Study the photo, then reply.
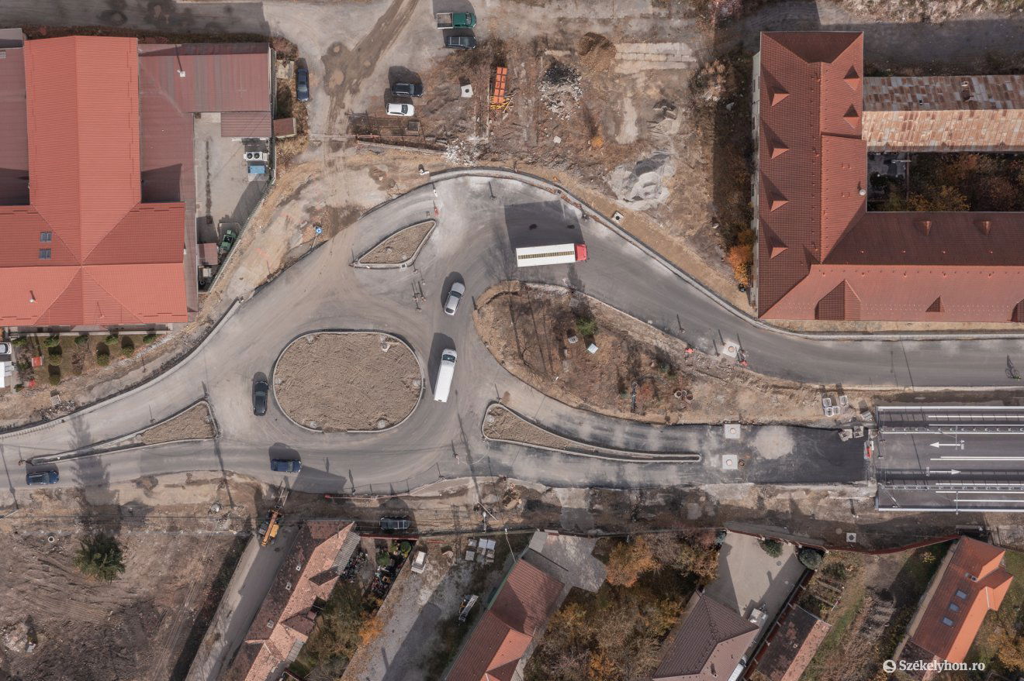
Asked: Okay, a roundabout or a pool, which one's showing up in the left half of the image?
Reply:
roundabout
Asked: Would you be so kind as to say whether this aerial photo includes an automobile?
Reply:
Yes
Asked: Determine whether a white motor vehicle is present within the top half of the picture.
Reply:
Yes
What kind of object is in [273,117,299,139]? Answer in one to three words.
shed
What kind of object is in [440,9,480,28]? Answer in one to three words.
vehicle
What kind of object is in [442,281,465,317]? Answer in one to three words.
car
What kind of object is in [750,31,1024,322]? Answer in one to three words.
building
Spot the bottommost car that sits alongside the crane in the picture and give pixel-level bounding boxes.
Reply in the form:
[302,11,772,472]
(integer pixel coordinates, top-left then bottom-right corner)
[269,459,301,475]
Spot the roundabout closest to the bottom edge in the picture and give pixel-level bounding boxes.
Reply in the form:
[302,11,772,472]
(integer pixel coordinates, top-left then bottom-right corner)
[242,299,452,464]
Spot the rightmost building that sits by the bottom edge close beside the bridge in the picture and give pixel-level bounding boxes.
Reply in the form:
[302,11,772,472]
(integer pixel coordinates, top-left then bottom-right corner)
[910,537,1013,663]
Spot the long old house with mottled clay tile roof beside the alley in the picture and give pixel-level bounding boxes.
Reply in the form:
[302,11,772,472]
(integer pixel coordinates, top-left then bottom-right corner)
[225,521,360,681]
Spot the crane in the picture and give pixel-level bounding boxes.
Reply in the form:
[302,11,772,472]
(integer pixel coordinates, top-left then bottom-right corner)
[253,481,292,547]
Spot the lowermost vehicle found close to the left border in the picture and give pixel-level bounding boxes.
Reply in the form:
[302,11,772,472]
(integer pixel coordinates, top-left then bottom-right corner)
[24,470,58,486]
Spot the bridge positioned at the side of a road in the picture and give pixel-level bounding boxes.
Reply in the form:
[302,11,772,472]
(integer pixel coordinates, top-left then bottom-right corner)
[876,406,1024,512]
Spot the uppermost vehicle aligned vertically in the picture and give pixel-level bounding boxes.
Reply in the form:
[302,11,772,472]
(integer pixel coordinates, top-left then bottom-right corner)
[294,67,310,100]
